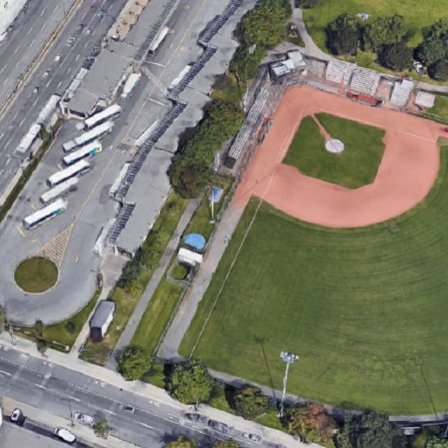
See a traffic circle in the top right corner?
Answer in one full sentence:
No, the scene shows no traffic circle in the top right corner.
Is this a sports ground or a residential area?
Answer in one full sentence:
What you see here is a sports ground.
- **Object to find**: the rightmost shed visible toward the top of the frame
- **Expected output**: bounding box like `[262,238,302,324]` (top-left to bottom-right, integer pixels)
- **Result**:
[414,89,437,109]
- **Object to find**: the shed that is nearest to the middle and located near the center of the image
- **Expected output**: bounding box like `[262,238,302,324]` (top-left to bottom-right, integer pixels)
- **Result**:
[177,247,203,268]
